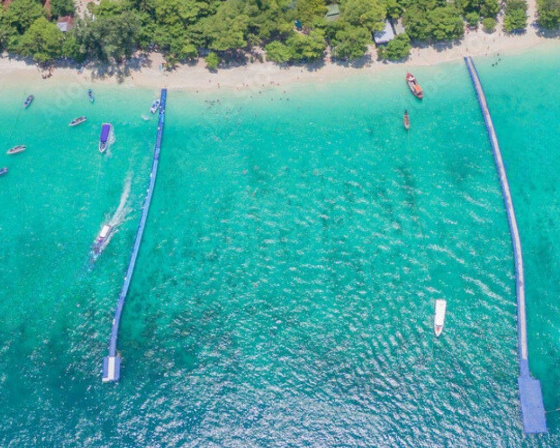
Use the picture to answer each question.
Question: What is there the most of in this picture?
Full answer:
The largest share of the image is taken up by water.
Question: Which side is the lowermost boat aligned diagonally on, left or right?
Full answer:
You can find the lowermost boat aligned diagonally on the left side of the picture.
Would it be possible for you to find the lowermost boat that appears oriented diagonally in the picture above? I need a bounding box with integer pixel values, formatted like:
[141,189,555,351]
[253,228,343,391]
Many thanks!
[94,221,114,252]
